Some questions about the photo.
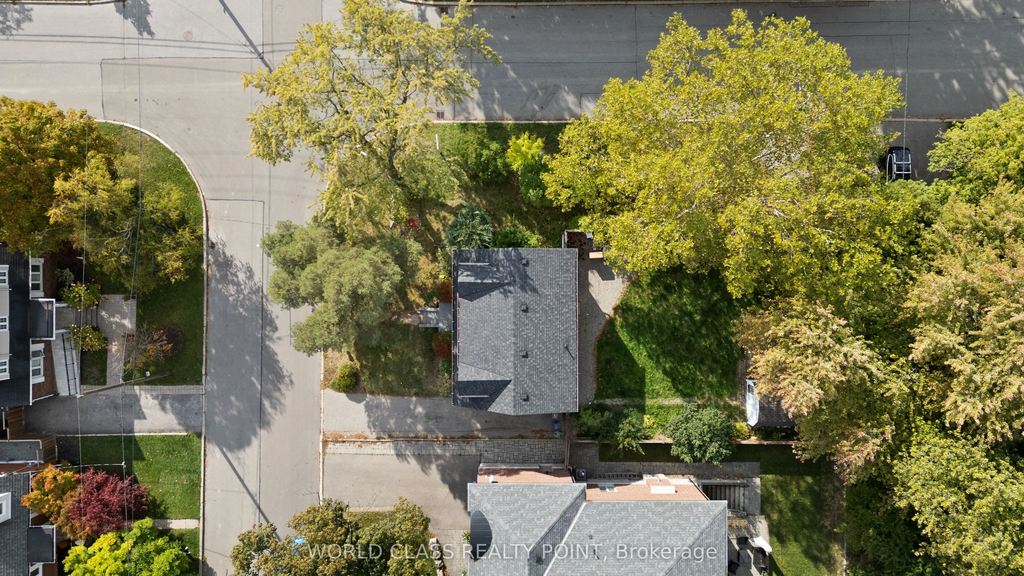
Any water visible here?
No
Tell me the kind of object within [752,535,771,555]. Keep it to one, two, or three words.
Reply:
umbrella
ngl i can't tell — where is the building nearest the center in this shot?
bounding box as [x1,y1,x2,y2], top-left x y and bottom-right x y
[420,247,580,415]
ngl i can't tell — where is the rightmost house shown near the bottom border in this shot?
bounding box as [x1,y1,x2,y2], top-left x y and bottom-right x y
[466,462,729,576]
